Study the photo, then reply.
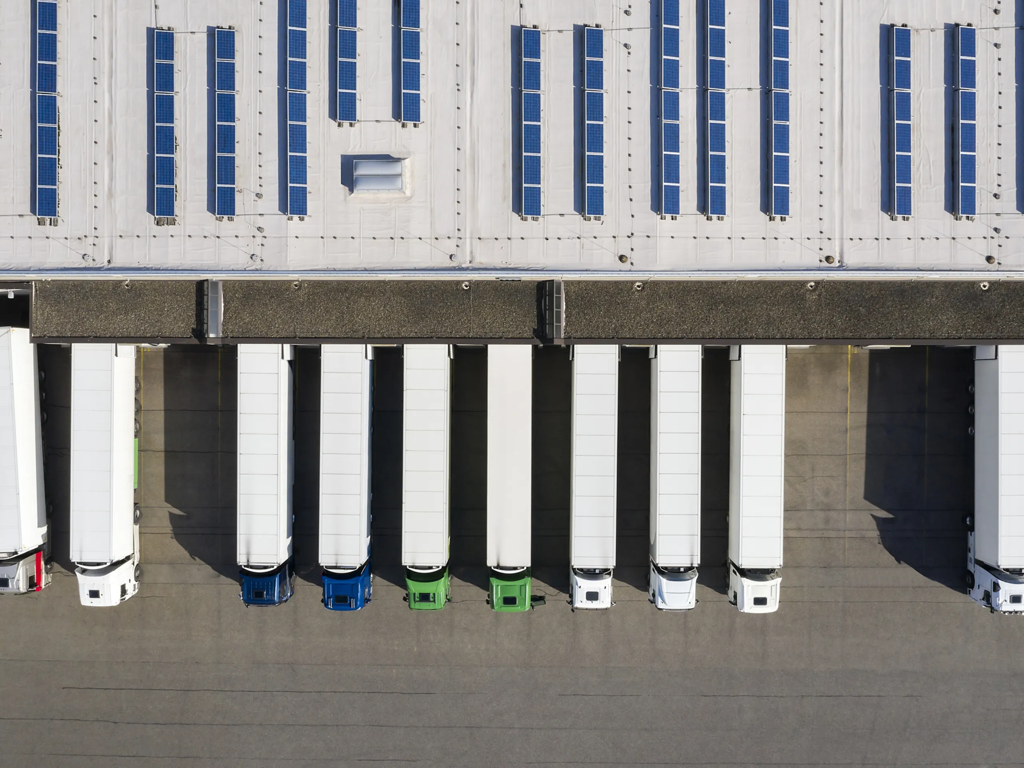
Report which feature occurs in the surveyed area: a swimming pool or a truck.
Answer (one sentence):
There is a truck in the scene.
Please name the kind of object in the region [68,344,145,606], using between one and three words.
truck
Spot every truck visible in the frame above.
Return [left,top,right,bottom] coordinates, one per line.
[68,344,145,606]
[566,344,622,617]
[484,344,545,613]
[962,344,1024,615]
[0,324,59,594]
[317,344,376,612]
[723,344,788,614]
[234,344,298,610]
[645,344,705,613]
[400,344,454,612]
